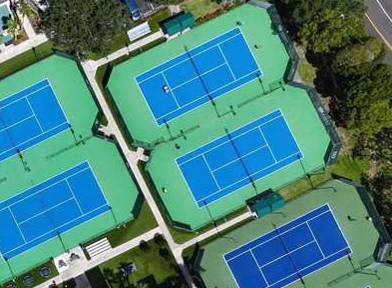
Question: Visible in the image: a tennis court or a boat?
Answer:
tennis court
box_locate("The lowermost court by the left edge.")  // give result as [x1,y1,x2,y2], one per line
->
[0,133,144,281]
